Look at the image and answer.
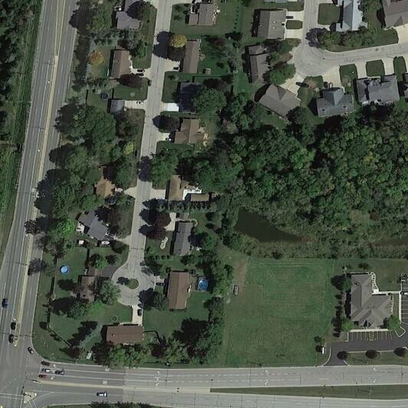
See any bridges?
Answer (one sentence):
No, the photo shows no bridge.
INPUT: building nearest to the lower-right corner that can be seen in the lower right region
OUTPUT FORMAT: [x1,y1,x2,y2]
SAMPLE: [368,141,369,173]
[350,273,393,328]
